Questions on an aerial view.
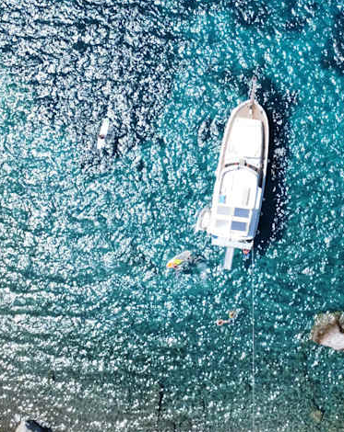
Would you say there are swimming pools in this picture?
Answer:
No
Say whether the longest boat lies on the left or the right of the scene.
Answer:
right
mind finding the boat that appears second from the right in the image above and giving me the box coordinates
[194,205,211,238]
